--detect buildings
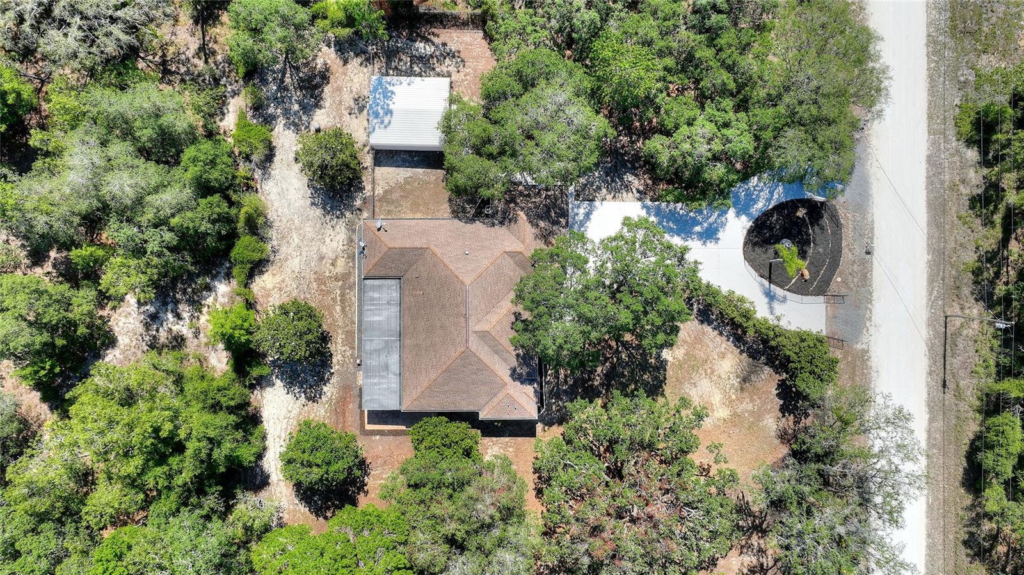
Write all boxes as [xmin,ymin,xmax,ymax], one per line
[369,77,451,148]
[361,187,558,420]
